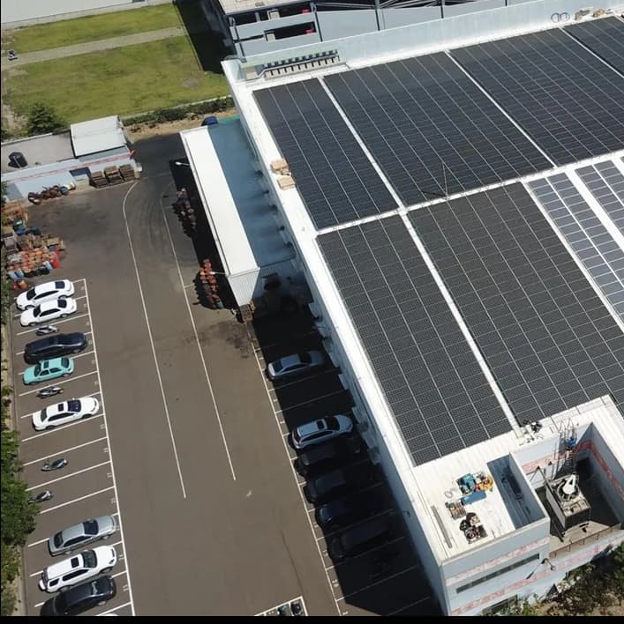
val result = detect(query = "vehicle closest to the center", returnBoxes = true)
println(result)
[266,350,326,383]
